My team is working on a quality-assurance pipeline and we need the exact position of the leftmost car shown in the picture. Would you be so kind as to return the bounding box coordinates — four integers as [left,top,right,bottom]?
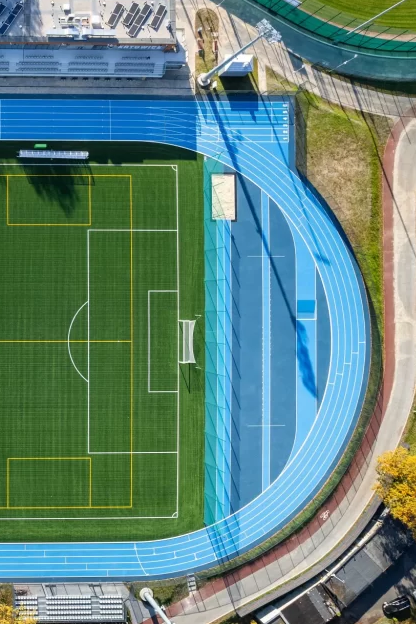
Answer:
[380,596,410,613]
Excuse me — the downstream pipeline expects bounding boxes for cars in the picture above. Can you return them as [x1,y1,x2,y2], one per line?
[411,587,416,599]
[380,596,410,613]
